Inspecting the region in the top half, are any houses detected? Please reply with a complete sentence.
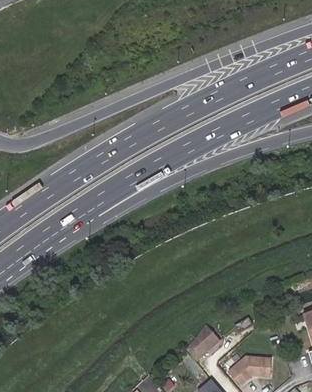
No, no house is visible in the top half.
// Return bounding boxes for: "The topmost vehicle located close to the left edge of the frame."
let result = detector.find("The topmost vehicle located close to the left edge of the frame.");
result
[10,179,47,208]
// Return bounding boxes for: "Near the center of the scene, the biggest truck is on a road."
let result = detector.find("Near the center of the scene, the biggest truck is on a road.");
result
[132,168,170,194]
